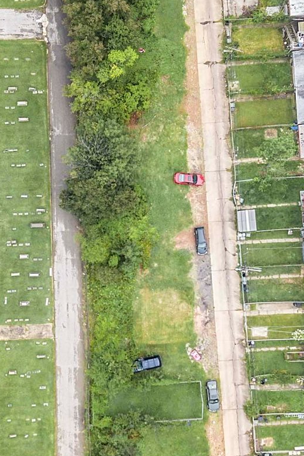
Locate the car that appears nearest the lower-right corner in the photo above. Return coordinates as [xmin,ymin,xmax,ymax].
[205,378,221,411]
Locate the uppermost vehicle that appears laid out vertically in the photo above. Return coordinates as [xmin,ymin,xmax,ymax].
[193,224,210,256]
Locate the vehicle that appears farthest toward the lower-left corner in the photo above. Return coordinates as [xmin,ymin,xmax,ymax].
[132,354,165,372]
